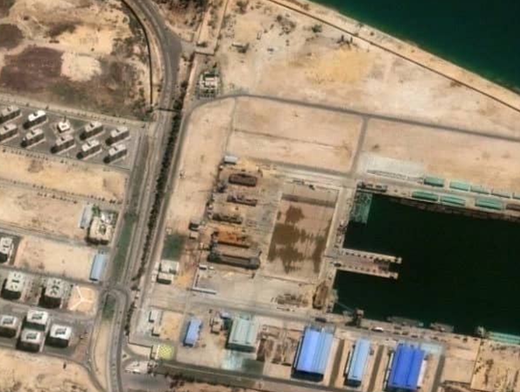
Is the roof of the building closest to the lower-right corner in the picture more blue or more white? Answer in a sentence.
From above, the roof of the building closest to the lower-right corner appears blue.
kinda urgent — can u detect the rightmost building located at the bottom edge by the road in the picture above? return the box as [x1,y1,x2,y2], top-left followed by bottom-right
[387,343,428,392]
